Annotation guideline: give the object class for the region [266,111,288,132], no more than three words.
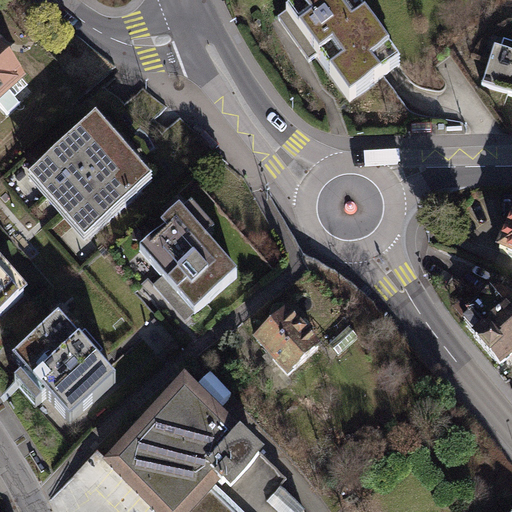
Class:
car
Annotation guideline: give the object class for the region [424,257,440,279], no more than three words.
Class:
car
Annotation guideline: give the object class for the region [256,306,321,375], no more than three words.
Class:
house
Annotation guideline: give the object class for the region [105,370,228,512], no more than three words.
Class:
building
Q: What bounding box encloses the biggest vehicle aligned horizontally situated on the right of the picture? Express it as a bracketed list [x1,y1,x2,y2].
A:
[354,149,400,166]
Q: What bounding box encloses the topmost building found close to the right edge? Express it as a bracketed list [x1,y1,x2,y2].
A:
[480,37,512,104]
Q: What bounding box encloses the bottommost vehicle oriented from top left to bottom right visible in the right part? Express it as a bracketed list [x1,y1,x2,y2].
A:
[471,294,490,316]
